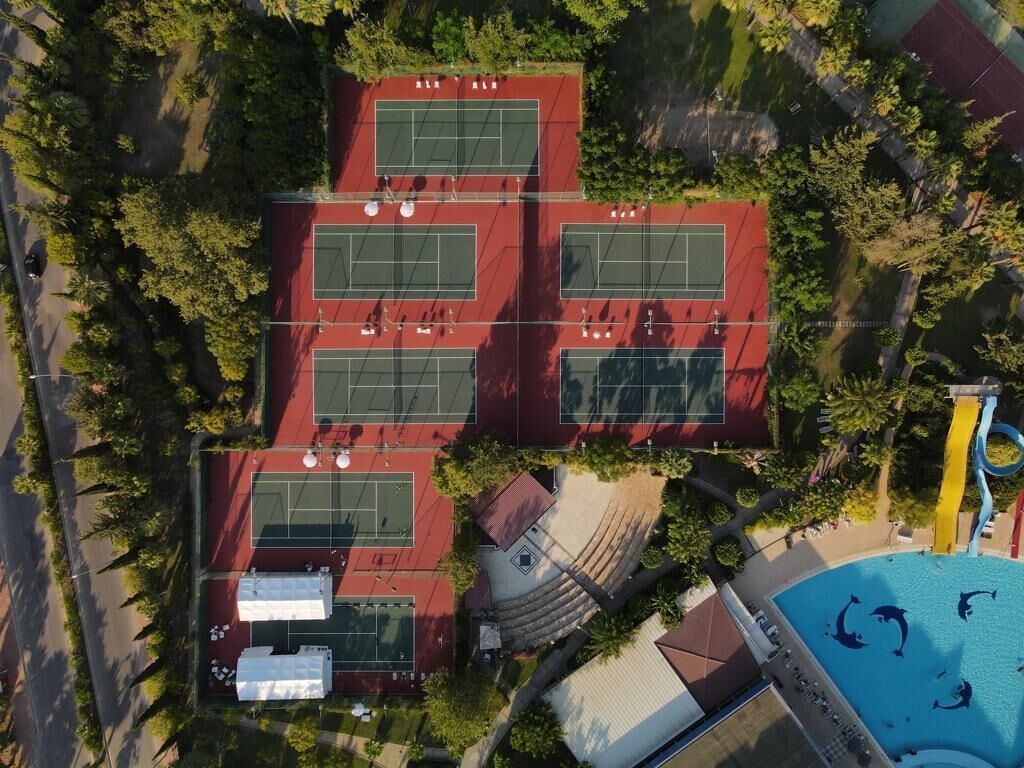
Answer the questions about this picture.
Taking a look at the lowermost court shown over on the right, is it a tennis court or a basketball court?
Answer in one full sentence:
In the photo, the lowermost court shown over on the right shows up as a tennis court.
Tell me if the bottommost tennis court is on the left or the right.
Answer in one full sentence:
It is on the left.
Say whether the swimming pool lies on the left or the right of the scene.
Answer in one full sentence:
The swimming pool is on the right side of the image.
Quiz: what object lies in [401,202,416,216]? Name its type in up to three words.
umbrella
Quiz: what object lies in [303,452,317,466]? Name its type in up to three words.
umbrella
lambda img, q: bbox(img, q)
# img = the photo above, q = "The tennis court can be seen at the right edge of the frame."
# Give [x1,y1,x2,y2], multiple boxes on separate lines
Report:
[855,0,1024,206]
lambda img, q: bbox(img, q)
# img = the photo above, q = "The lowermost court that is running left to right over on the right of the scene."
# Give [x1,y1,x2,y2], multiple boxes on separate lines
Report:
[519,324,769,447]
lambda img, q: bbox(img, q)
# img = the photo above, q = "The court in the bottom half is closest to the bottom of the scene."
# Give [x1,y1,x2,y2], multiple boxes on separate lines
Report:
[205,575,452,694]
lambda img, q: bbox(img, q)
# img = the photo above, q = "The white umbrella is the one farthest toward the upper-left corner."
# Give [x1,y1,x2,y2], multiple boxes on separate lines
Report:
[365,202,379,216]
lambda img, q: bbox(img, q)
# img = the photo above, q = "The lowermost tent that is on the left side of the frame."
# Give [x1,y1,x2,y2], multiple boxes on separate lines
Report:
[237,641,334,699]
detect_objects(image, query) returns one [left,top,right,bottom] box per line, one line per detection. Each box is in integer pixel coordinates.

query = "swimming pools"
[761,545,1024,768]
